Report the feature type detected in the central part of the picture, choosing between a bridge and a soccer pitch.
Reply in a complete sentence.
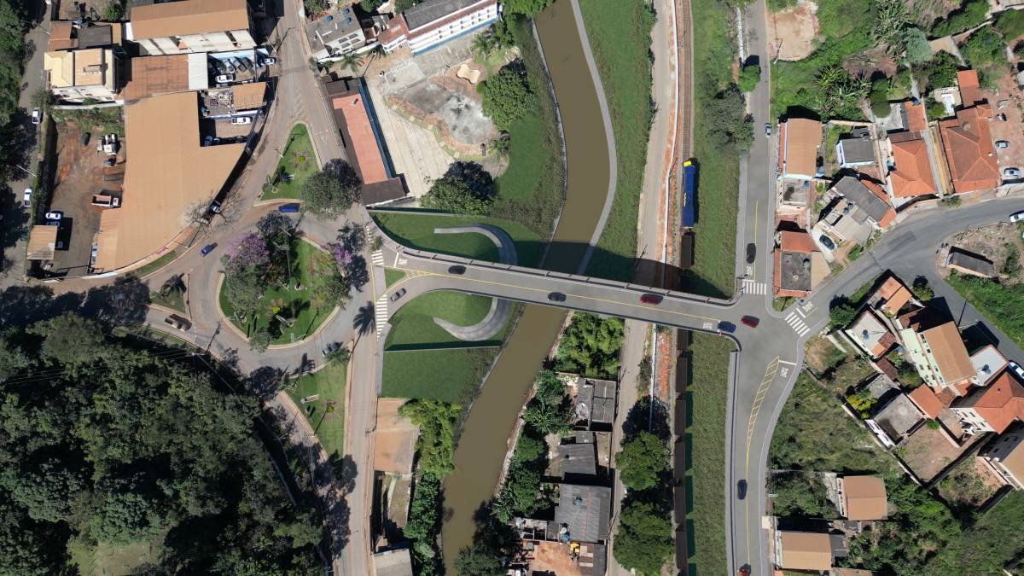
You can see a bridge in the central part of the picture.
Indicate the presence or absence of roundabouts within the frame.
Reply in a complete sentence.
Yes, the photo shows a roundabout.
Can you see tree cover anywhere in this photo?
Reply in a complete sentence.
Yes, tree cover shows up in the scene.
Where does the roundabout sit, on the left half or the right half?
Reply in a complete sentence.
The roundabout appears in the left half of the scene.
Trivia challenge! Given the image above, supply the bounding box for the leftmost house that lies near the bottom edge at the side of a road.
[374,543,414,576]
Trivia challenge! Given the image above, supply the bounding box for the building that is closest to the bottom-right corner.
[980,432,1024,498]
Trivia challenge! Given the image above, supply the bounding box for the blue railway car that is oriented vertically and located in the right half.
[680,160,696,226]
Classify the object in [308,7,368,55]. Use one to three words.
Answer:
house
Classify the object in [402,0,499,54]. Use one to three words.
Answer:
building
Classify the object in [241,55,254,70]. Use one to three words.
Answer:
vehicle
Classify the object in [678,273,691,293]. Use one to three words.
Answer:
rail car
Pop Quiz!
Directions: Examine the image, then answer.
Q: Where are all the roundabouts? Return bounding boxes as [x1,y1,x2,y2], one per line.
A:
[192,219,372,364]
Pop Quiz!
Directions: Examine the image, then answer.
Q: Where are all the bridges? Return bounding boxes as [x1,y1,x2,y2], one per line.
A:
[363,218,745,350]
